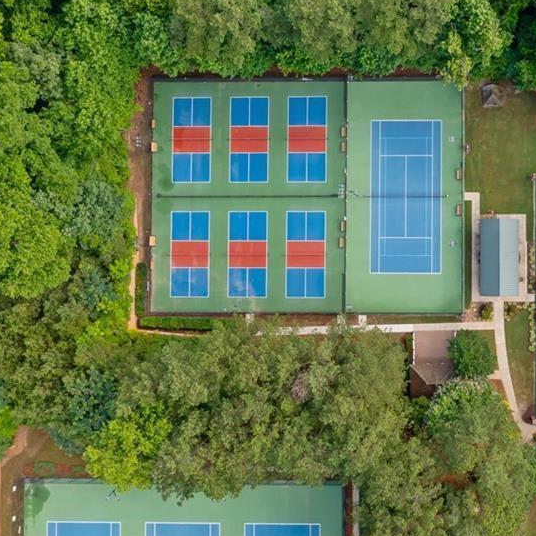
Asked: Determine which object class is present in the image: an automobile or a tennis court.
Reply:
tennis court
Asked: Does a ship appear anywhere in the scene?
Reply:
No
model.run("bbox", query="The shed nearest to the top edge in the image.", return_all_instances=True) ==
[481,85,503,108]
